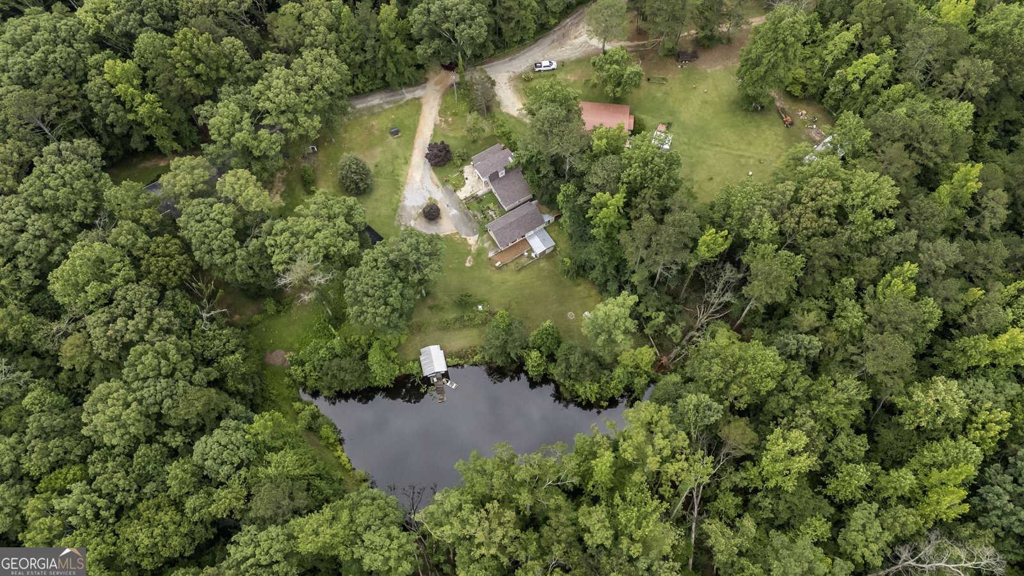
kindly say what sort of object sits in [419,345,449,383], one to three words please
building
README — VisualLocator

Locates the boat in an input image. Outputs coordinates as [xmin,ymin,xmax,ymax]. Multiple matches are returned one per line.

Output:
[441,377,458,389]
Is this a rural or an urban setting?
rural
